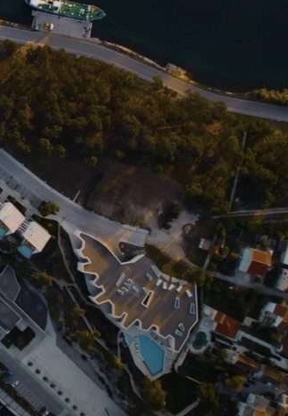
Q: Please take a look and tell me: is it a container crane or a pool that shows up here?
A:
pool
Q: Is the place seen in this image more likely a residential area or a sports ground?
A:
residential area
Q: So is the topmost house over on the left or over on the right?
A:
left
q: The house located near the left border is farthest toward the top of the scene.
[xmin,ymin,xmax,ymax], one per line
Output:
[0,199,24,234]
